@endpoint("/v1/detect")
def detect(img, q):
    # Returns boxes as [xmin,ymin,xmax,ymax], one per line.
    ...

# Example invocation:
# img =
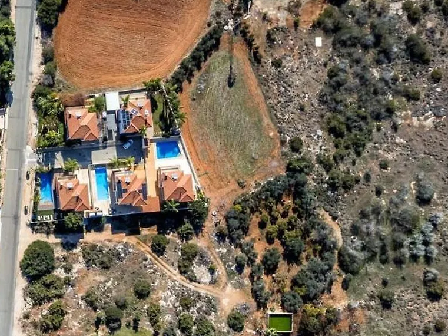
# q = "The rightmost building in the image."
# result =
[159,165,194,202]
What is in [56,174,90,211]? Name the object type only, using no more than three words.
house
